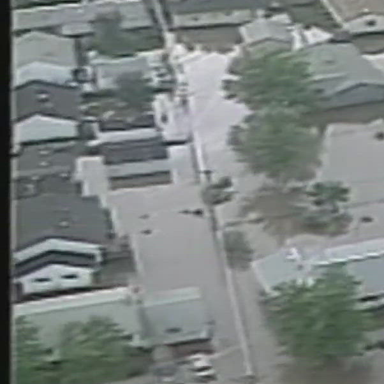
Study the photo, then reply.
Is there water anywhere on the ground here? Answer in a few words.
Yes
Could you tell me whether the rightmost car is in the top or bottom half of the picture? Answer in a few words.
bottom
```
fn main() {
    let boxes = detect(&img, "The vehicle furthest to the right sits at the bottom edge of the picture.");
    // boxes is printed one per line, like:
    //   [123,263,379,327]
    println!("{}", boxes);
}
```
[185,353,220,384]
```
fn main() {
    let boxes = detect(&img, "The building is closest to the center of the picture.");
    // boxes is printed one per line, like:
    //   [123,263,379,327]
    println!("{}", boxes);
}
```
[98,127,167,178]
